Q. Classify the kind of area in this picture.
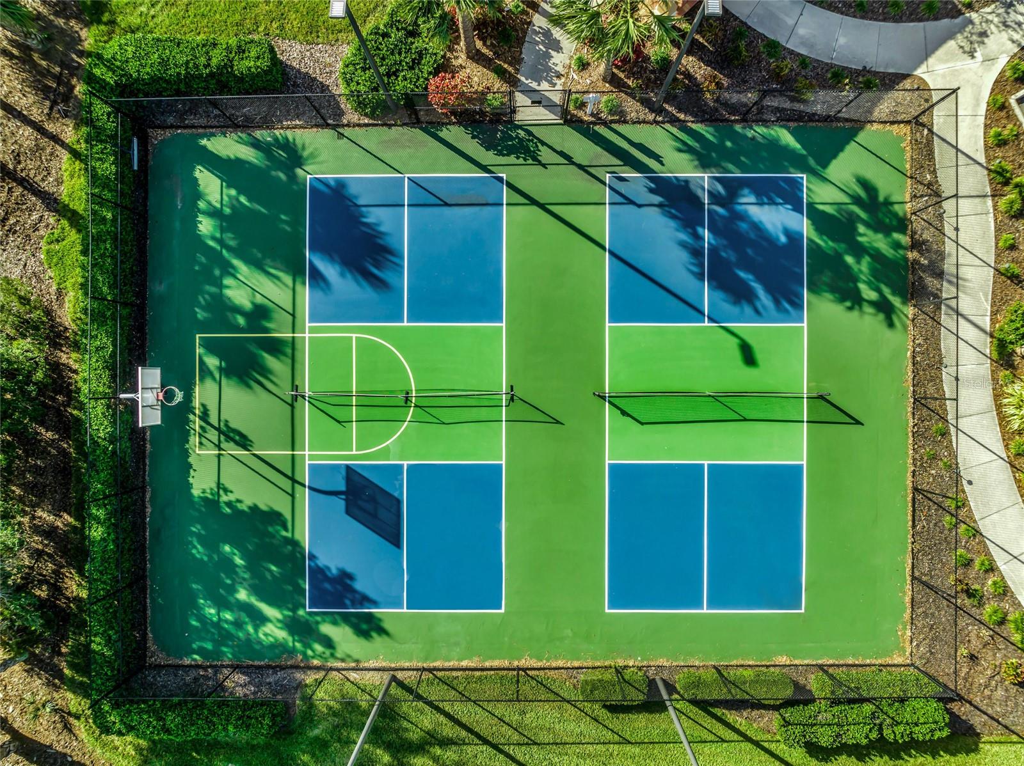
sports ground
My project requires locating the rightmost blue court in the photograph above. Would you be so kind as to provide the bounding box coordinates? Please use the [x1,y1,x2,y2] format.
[607,174,805,613]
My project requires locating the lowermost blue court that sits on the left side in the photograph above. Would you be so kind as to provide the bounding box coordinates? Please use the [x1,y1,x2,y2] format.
[307,174,505,613]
